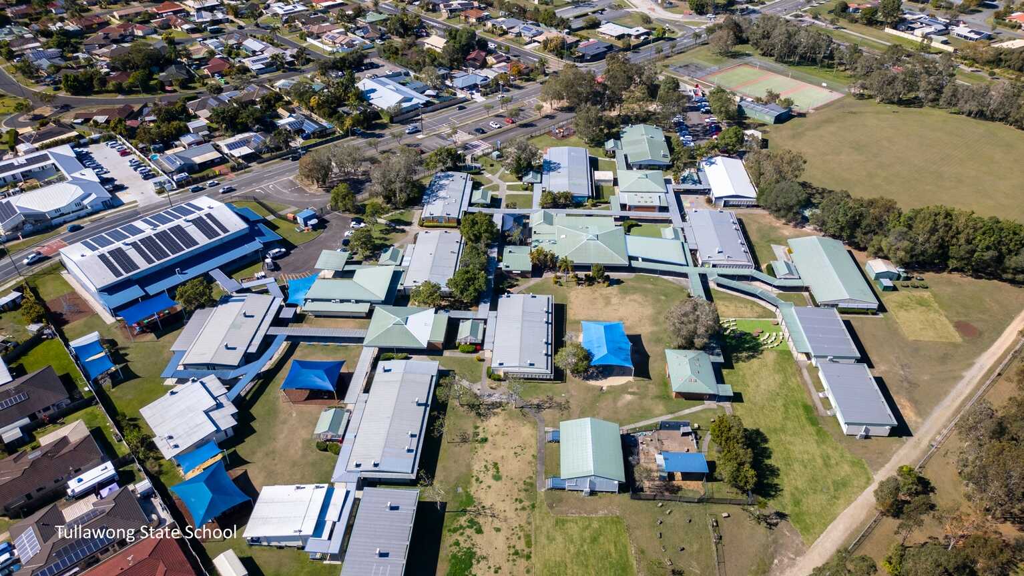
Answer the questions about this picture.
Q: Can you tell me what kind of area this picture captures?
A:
residential area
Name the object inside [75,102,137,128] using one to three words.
house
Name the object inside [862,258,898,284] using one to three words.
shed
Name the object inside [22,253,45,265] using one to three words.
vehicle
